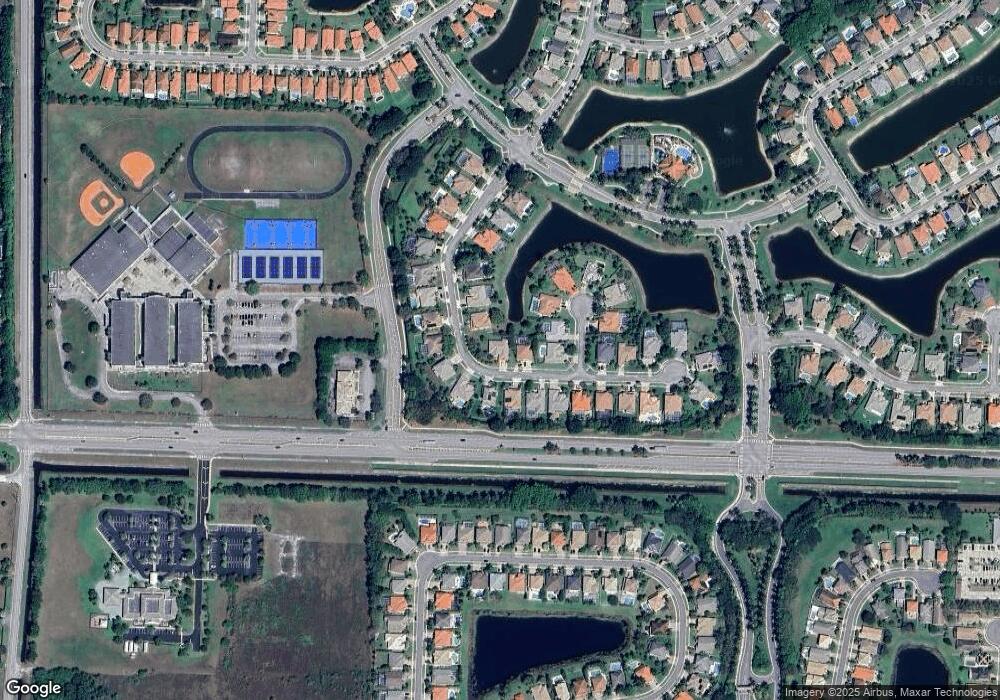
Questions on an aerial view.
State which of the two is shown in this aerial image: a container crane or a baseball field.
baseball field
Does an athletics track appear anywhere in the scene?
Yes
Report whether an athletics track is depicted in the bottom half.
No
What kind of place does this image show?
residential area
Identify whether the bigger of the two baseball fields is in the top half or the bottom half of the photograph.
top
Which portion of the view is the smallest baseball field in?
top left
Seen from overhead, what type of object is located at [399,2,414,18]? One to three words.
swimming pool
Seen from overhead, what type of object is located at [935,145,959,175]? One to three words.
house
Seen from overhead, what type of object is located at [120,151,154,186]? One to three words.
baseball field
